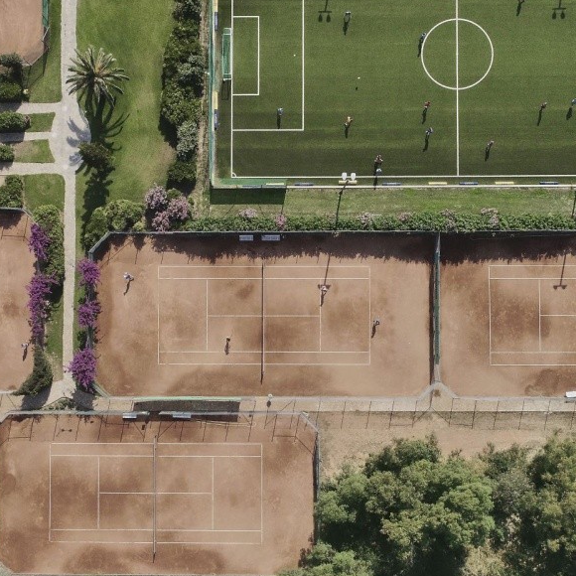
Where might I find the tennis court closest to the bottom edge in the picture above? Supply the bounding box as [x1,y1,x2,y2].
[0,413,315,575]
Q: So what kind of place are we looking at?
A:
sports ground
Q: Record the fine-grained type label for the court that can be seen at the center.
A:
tennis court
